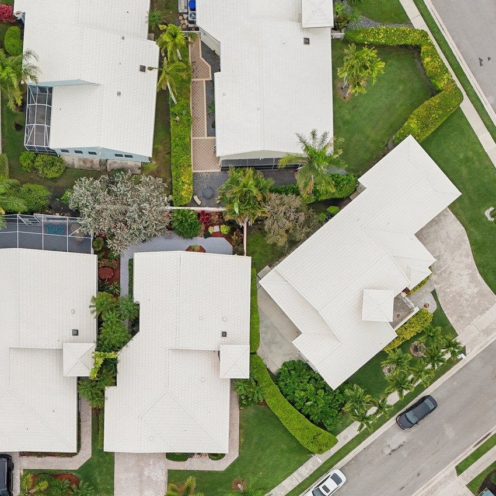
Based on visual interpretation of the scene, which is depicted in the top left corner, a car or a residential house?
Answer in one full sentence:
What appears in the top left corner is a residential house.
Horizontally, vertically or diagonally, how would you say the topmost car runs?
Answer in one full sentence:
The topmost car is laid out diagonally.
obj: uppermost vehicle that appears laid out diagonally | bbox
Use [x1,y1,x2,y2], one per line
[393,393,441,432]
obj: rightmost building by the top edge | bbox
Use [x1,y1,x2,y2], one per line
[196,0,334,166]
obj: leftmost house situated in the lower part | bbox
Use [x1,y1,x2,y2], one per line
[0,247,97,453]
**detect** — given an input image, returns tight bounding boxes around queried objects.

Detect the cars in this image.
[301,468,349,496]
[0,455,13,496]
[393,393,441,432]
